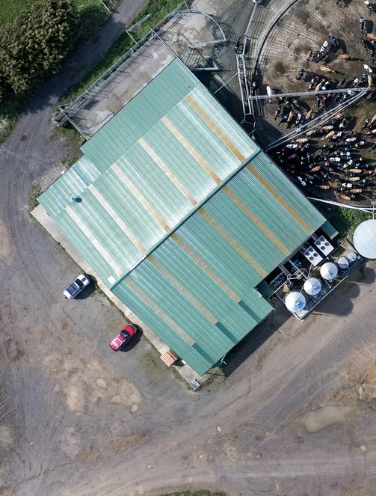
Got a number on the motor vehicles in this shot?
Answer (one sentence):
The picture shows 2 motor vehicles.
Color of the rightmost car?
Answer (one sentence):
In this view, the rightmost car is red.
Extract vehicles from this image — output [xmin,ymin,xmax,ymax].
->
[106,323,138,353]
[59,272,95,302]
